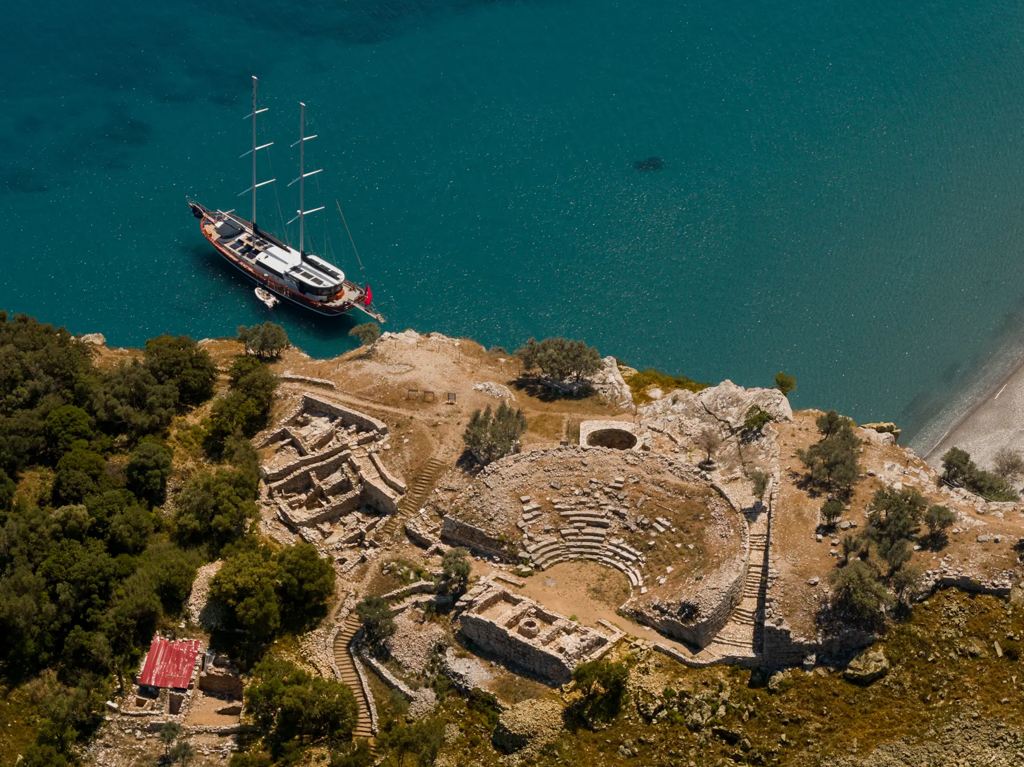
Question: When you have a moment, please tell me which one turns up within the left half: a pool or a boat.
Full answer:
There is a boat within the left half.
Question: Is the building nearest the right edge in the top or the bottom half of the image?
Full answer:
The building nearest the right edge is in the bottom half of the image.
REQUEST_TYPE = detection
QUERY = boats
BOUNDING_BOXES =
[186,75,388,327]
[247,284,283,308]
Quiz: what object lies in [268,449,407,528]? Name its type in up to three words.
house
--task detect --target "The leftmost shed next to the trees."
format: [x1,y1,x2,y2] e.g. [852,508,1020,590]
[138,632,204,708]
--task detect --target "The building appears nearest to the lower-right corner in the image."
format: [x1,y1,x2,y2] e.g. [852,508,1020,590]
[454,571,629,683]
